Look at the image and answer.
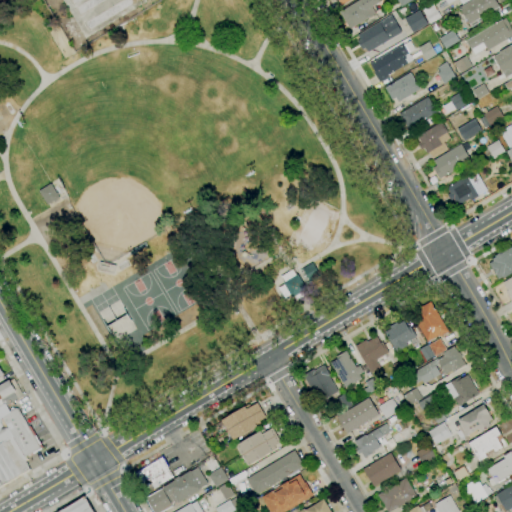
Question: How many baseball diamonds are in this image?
1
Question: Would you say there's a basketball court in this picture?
Yes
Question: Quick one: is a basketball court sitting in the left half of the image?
Yes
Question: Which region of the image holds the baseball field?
left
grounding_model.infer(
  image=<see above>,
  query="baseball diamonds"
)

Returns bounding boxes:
[76,175,162,260]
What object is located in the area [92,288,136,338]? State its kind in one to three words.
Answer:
sports court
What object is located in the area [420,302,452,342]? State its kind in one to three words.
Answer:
house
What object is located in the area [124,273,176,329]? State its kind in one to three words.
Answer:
basketball court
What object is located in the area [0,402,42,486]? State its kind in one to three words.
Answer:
building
